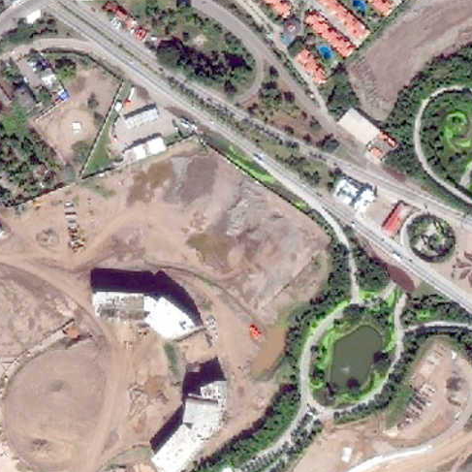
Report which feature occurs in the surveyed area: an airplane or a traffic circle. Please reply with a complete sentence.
Visible in the photo is a traffic circle.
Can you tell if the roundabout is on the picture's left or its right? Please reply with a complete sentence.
The roundabout sits on the right side.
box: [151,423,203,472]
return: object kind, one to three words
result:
building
